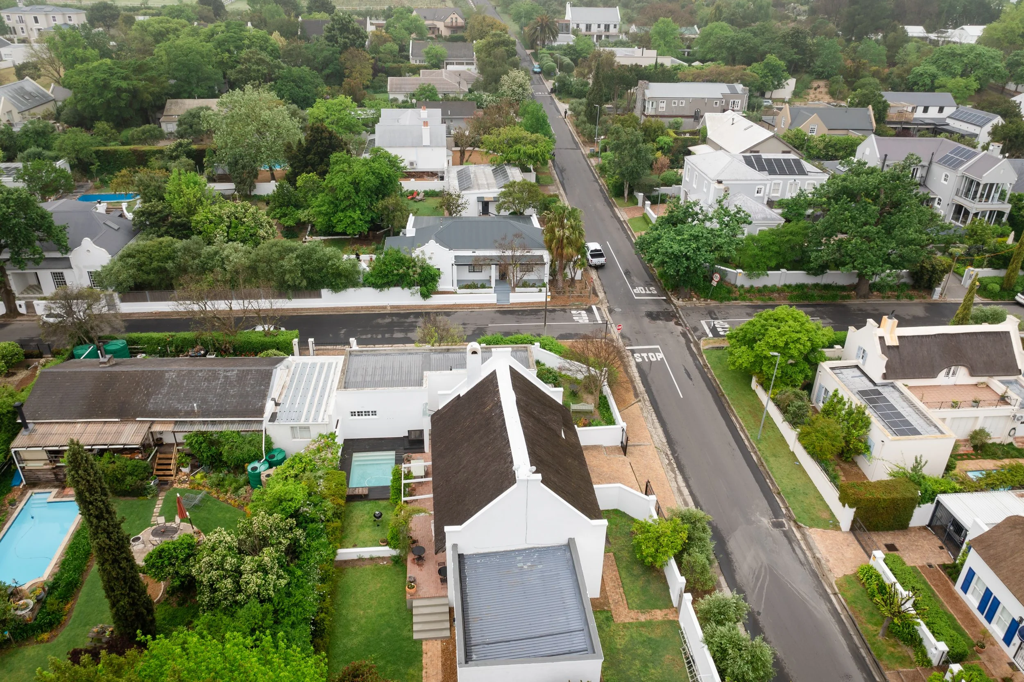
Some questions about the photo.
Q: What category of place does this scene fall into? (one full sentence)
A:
The area seen from above is a residential area.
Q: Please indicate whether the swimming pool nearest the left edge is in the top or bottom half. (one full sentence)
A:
It is in the bottom half that the swimming pool nearest the left edge appears.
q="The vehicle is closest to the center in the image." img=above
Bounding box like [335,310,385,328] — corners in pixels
[582,238,607,263]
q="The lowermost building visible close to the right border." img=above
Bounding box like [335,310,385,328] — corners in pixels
[955,531,1024,671]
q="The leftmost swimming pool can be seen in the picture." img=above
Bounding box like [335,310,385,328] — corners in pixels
[0,488,70,597]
